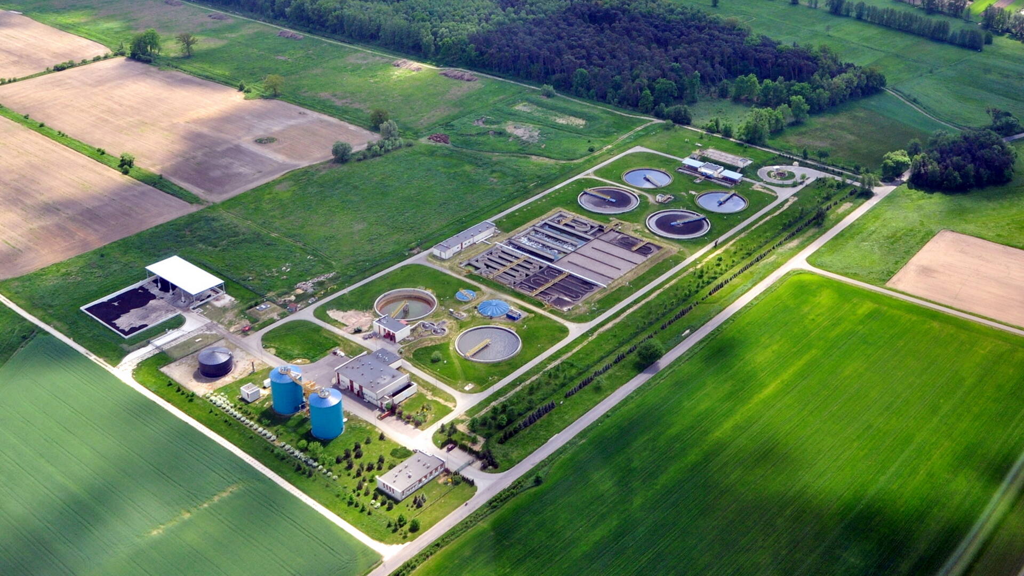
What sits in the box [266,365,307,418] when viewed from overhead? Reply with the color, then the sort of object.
blue silo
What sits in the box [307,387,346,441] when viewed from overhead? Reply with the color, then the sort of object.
blue silo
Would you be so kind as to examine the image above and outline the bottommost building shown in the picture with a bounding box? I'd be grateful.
[377,447,444,501]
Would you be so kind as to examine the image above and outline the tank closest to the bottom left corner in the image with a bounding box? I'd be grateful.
[196,348,235,378]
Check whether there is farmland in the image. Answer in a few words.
Yes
